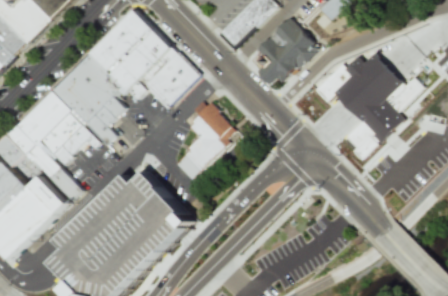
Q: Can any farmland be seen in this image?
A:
No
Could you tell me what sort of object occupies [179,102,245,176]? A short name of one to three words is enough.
building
